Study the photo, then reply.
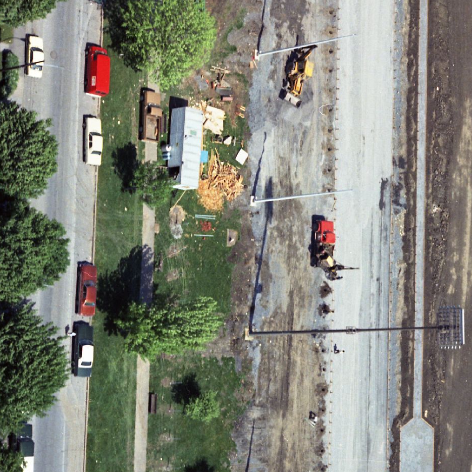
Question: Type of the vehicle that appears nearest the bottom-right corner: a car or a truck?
truck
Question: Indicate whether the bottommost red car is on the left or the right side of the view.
left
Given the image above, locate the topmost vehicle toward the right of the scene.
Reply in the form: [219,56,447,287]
[279,48,321,106]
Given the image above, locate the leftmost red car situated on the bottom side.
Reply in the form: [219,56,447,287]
[75,262,97,318]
